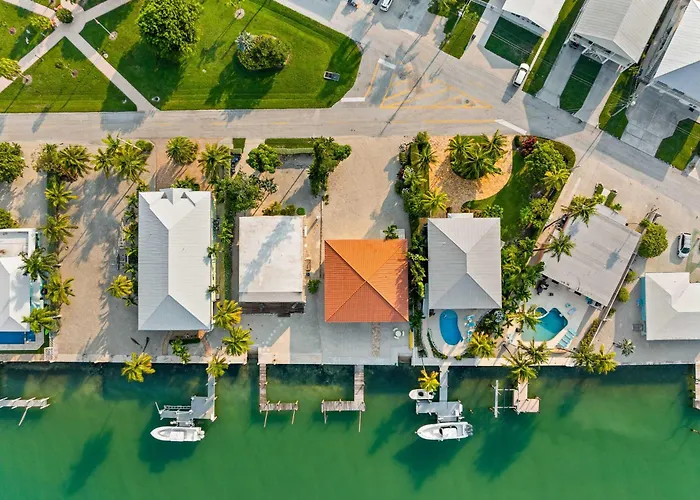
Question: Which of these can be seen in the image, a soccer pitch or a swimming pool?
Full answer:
Looking from above, you can make out a swimming pool.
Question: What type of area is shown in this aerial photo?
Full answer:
It's a residential area.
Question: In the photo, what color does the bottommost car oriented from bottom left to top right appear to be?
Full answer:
The bottommost car oriented from bottom left to top right looks white in the image.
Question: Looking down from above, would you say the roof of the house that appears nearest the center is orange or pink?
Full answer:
The color of the roof of the house that appears nearest the center is orange.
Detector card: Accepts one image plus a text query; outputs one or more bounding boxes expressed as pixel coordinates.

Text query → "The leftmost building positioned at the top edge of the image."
[497,0,563,41]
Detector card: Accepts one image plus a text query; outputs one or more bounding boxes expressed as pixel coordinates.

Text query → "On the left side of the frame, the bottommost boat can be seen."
[148,428,202,443]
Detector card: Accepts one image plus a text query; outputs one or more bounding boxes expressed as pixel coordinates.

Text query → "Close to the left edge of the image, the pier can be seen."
[0,398,50,425]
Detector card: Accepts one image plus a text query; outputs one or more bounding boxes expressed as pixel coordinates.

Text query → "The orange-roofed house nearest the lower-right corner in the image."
[323,239,409,324]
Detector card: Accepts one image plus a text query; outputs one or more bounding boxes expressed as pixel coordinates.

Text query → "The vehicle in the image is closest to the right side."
[676,232,693,257]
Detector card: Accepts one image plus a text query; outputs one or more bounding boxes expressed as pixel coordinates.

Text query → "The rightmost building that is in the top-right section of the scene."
[642,0,700,112]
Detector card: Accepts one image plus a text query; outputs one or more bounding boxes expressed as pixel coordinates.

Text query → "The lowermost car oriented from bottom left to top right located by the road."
[511,64,531,87]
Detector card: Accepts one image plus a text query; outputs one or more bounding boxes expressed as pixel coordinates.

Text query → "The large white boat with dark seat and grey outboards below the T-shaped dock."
[416,424,470,442]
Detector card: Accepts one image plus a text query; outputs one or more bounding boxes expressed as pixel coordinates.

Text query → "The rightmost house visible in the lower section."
[632,272,700,340]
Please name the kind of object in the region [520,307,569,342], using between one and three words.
swimming pool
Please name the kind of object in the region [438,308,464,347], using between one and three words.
swimming pool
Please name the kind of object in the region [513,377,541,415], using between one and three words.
pier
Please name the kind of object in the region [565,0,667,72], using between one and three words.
house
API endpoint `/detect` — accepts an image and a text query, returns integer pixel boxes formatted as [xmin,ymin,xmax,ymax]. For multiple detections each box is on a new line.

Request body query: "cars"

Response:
[511,64,531,87]
[347,0,360,8]
[565,34,579,54]
[377,0,394,14]
[676,232,693,257]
